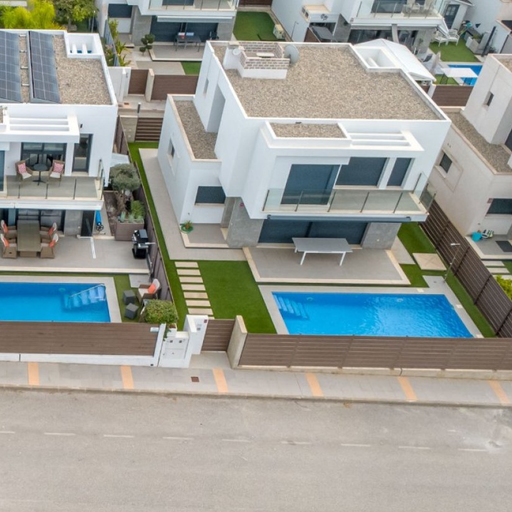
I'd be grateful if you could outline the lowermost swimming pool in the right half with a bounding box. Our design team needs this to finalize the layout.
[260,285,471,343]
